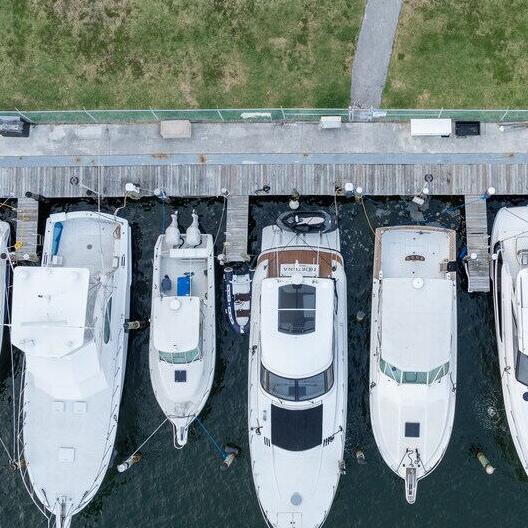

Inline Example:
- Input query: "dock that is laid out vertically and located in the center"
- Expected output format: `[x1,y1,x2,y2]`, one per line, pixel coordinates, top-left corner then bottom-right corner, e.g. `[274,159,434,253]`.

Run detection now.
[225,196,252,262]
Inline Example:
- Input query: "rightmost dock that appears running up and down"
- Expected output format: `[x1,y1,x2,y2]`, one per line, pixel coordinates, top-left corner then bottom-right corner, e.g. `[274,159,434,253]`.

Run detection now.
[464,195,490,292]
